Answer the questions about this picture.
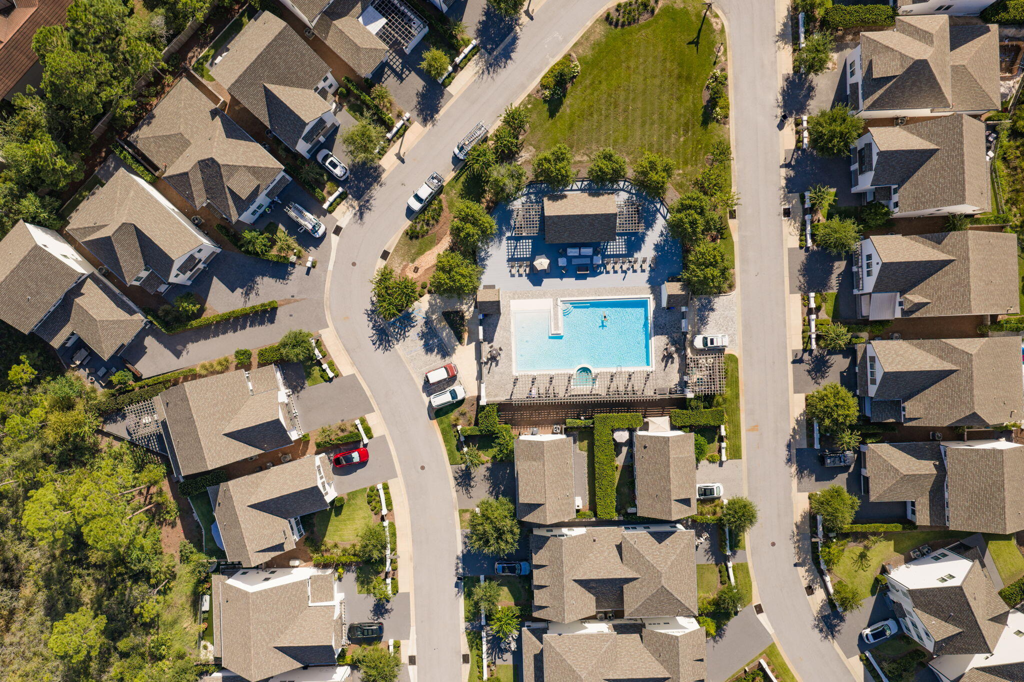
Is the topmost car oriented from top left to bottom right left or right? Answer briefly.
left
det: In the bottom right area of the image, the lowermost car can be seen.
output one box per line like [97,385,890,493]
[858,616,897,644]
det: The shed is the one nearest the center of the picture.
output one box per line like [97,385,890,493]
[477,284,501,315]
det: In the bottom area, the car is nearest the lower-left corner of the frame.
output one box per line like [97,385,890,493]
[349,622,385,641]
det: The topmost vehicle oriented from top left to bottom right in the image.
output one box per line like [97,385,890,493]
[317,150,352,184]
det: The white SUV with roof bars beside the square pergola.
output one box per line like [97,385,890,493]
[692,333,728,351]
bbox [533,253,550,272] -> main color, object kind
white umbrella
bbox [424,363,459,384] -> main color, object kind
white car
